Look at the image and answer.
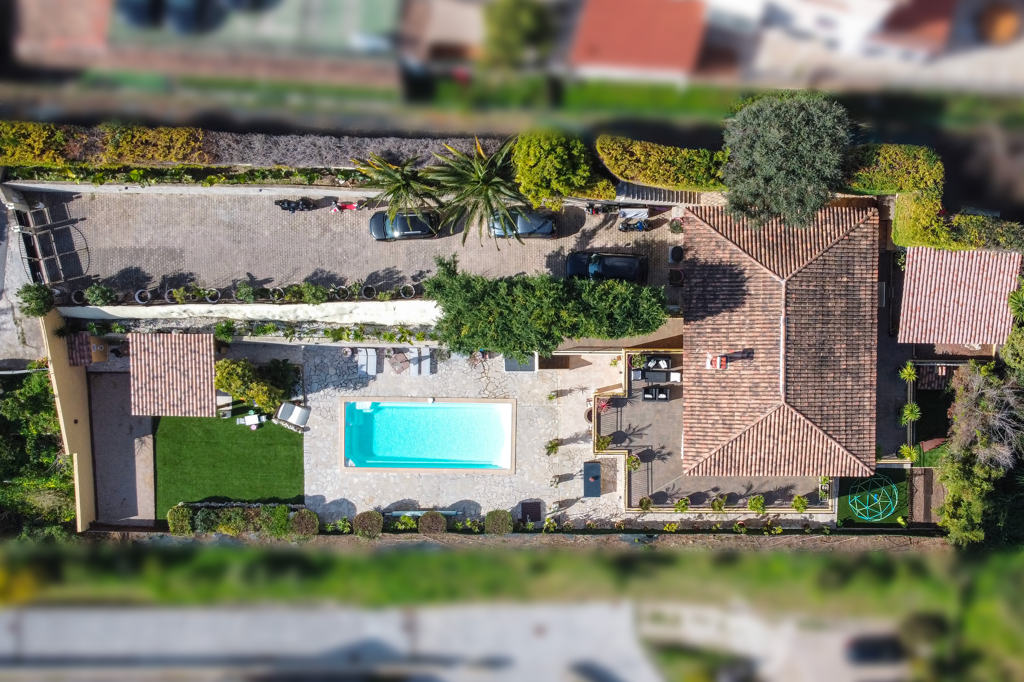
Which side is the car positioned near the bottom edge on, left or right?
right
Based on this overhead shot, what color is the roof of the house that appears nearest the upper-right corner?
red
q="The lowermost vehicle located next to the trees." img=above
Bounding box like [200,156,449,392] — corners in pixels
[828,628,898,666]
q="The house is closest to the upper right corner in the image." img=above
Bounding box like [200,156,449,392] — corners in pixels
[854,0,953,79]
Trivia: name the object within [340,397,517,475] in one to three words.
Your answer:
swimming pool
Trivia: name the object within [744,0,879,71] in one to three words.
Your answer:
building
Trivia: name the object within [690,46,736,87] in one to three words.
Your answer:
shed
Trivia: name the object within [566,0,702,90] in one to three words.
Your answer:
house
